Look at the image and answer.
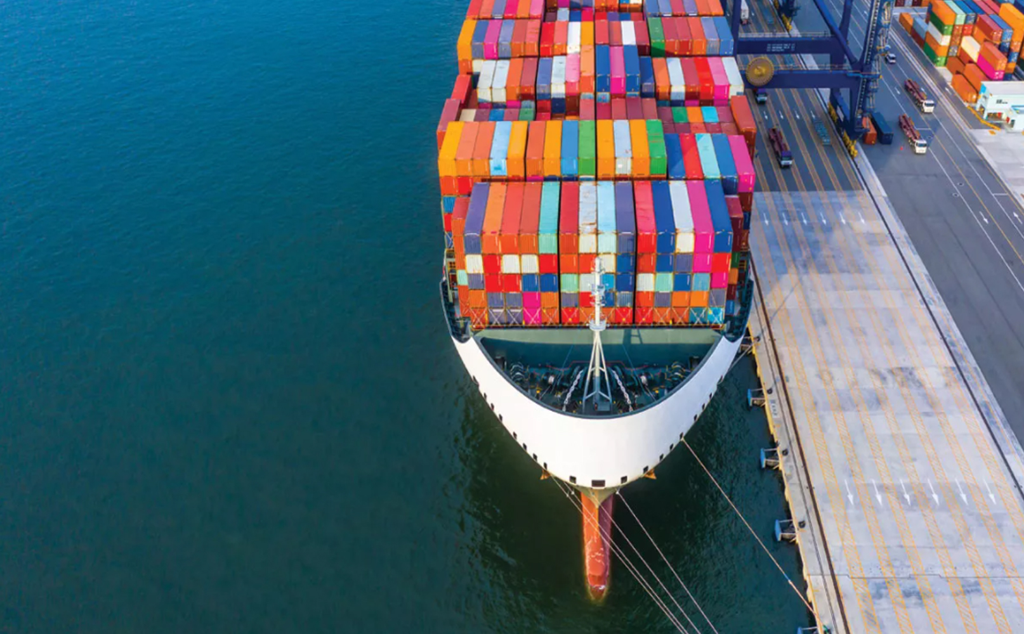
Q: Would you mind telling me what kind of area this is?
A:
port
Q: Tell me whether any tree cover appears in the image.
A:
No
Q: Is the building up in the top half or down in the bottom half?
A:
top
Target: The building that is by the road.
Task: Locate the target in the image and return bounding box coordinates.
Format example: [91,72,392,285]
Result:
[980,77,1024,132]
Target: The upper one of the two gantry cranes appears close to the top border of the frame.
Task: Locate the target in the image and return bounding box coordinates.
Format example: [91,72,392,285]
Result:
[771,0,803,35]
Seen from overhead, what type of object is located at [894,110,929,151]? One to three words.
truck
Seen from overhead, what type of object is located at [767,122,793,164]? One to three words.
truck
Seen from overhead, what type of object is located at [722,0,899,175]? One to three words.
container crane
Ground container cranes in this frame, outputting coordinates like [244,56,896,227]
[722,0,899,175]
[771,0,803,35]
